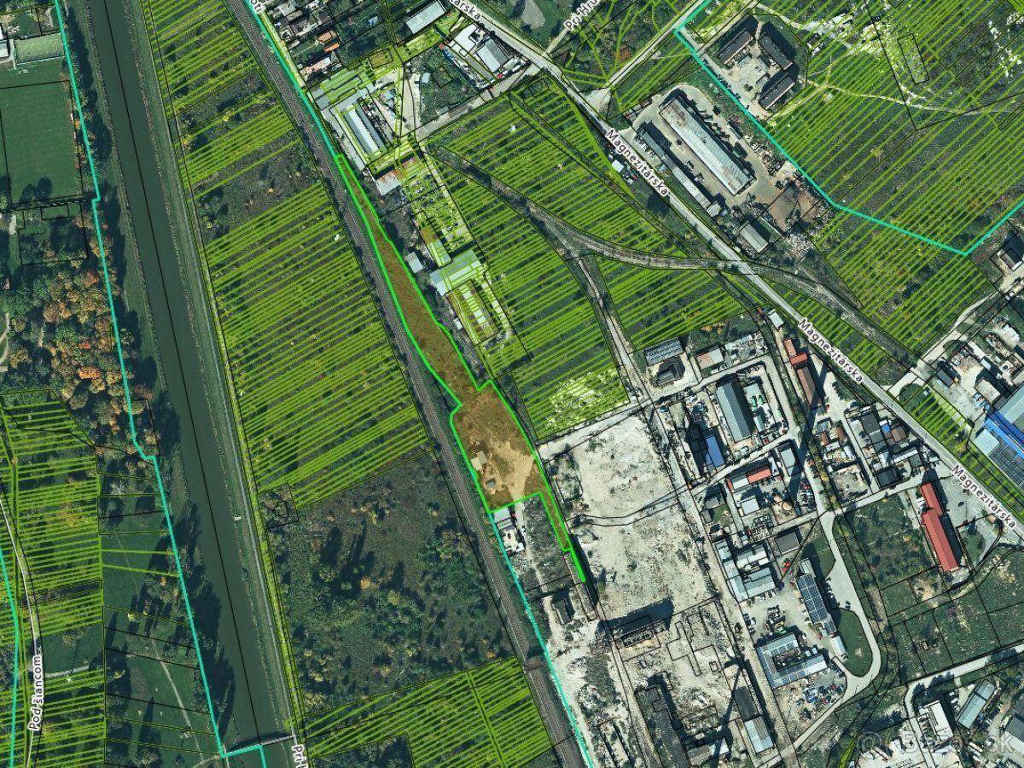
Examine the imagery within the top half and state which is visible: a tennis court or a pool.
tennis court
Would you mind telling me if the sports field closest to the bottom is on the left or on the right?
left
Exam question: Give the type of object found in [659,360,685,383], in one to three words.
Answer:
house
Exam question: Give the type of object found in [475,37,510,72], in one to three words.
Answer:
building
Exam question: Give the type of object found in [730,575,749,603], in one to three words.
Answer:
building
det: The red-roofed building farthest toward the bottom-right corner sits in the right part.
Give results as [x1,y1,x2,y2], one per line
[923,512,960,573]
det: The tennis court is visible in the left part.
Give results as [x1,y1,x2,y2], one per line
[16,33,64,64]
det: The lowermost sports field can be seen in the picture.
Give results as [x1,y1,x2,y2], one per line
[0,81,82,207]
